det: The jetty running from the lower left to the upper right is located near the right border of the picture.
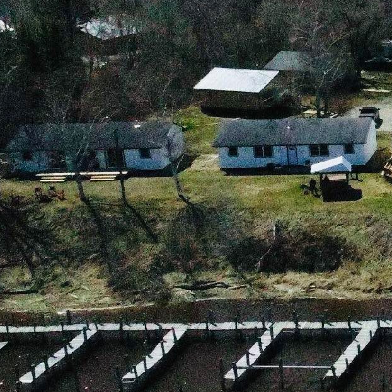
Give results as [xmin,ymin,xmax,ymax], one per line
[324,321,379,388]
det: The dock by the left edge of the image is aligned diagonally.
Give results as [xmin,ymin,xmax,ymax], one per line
[18,325,98,392]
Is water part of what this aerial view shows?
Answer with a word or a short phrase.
Yes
